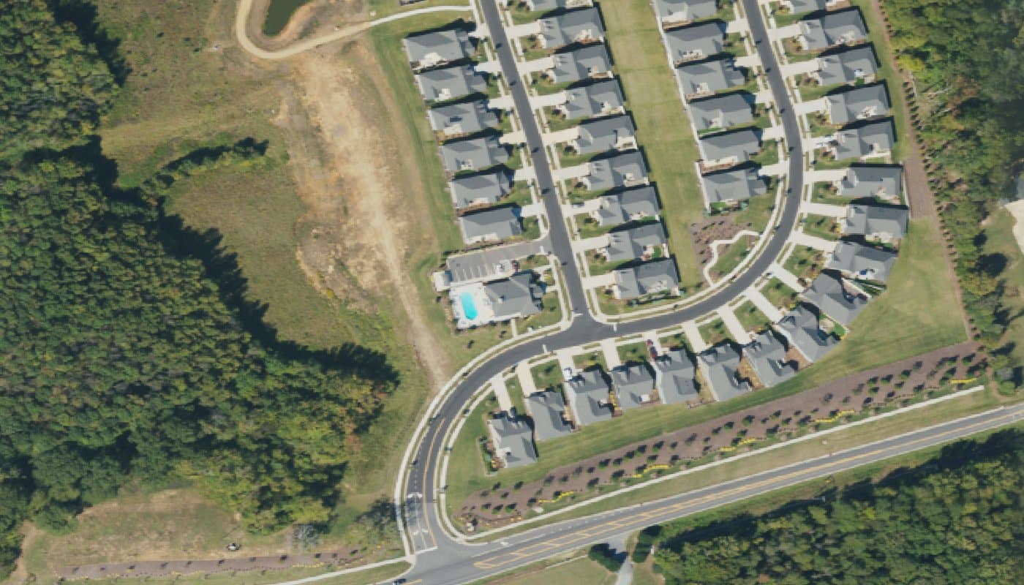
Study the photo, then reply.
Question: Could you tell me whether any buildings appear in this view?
Yes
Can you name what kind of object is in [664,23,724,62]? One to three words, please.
house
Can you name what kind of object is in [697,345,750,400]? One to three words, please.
house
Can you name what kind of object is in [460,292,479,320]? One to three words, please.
swimming pool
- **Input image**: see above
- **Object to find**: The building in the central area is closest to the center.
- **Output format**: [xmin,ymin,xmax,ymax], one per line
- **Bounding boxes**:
[483,269,549,316]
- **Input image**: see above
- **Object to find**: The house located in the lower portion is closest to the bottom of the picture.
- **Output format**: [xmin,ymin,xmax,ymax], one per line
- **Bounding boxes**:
[490,417,538,468]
